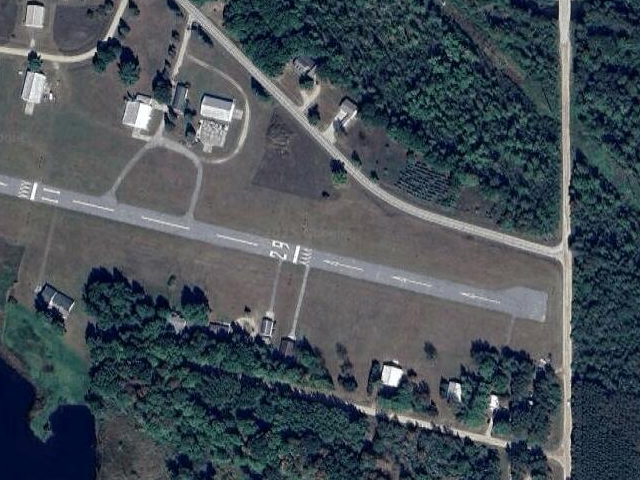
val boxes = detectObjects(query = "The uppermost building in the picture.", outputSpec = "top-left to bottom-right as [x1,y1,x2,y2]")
[25,4,44,27]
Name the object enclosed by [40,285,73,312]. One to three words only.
house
